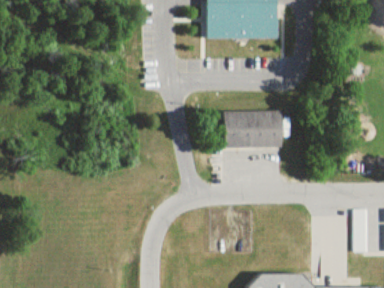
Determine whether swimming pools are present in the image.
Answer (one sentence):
No, the photo shows no swimming pool.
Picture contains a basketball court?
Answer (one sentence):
No, the picture doesn't show any basketball court.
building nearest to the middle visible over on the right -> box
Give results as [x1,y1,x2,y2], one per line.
[224,111,282,148]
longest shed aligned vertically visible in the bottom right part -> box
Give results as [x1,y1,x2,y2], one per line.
[352,209,368,252]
